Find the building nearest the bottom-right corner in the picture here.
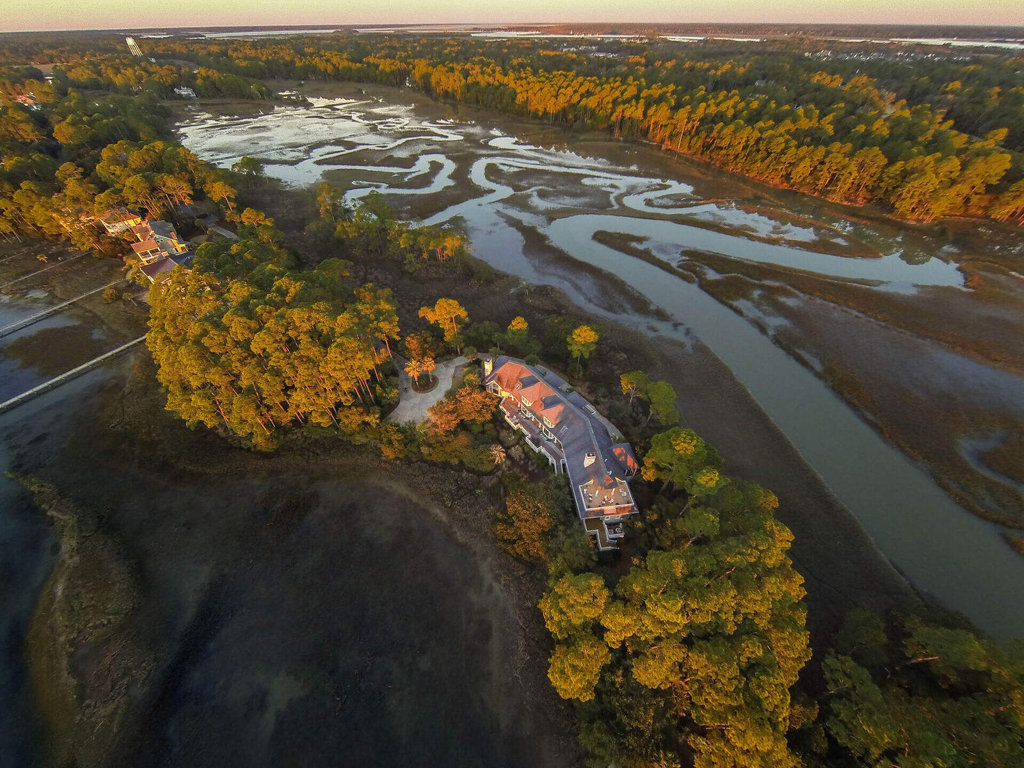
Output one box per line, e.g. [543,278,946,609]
[480,354,647,555]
